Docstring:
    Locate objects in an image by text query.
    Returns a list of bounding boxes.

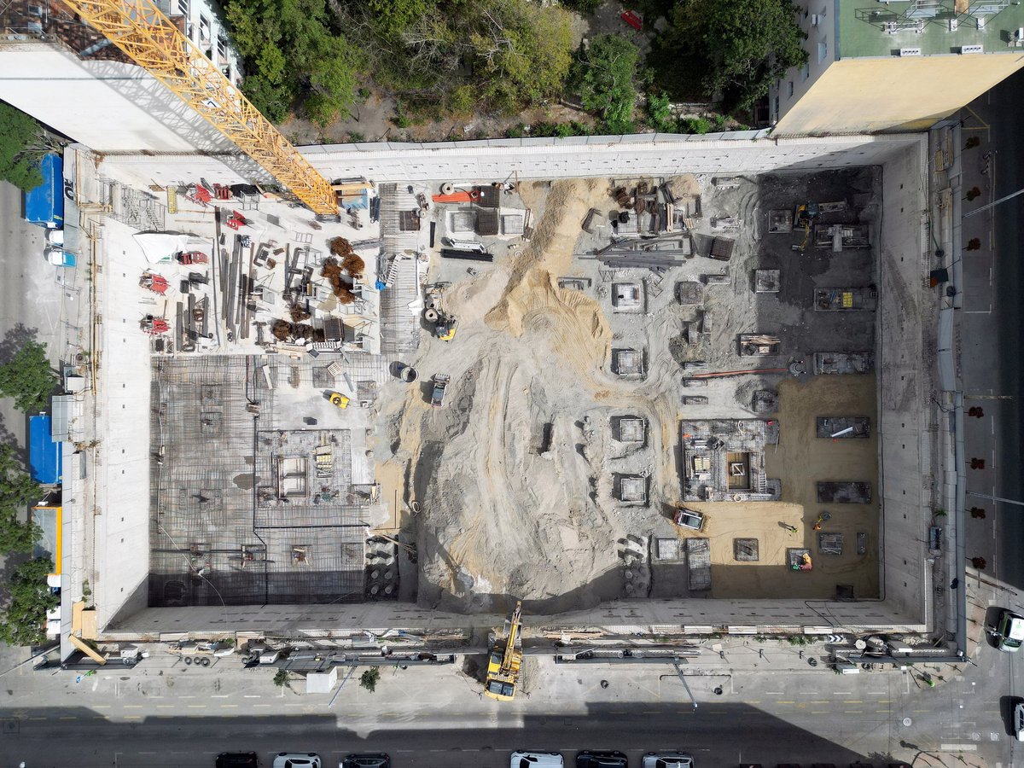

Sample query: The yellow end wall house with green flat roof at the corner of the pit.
[768,0,1024,137]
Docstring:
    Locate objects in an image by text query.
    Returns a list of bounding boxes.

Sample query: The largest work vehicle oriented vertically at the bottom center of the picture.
[487,599,525,706]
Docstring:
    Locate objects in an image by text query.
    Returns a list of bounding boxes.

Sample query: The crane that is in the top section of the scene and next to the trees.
[66,0,339,222]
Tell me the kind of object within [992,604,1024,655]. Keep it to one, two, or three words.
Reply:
car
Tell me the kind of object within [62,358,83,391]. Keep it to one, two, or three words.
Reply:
building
